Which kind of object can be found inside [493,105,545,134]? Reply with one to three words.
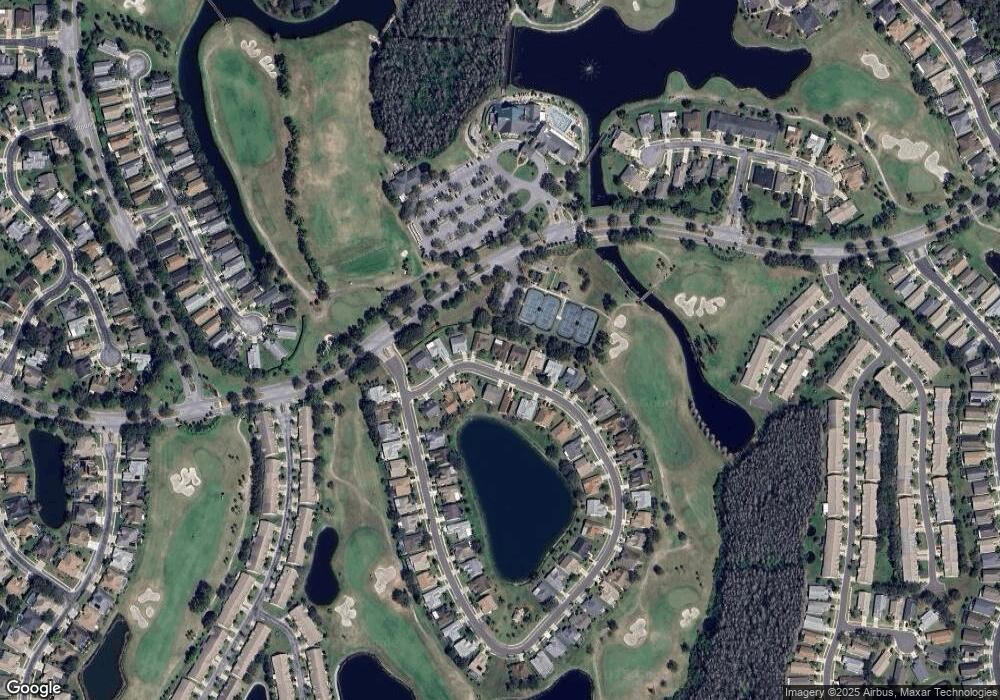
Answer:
building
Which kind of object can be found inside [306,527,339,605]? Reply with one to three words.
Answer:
pond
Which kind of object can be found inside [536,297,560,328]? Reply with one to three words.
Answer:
tennis court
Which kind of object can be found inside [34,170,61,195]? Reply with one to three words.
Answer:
house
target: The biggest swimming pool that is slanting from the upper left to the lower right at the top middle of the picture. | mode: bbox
[543,103,584,147]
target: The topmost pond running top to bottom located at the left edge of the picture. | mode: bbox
[30,429,66,528]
